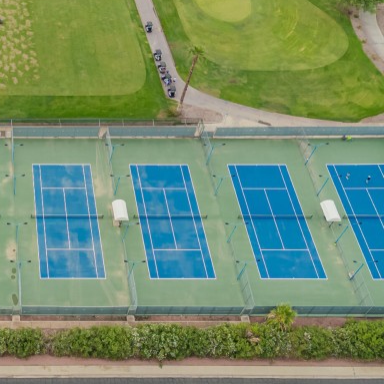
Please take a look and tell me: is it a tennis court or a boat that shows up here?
tennis court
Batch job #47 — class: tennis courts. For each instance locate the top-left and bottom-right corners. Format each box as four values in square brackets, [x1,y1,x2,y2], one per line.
[30,165,106,279]
[229,165,327,279]
[130,165,216,279]
[327,165,384,278]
